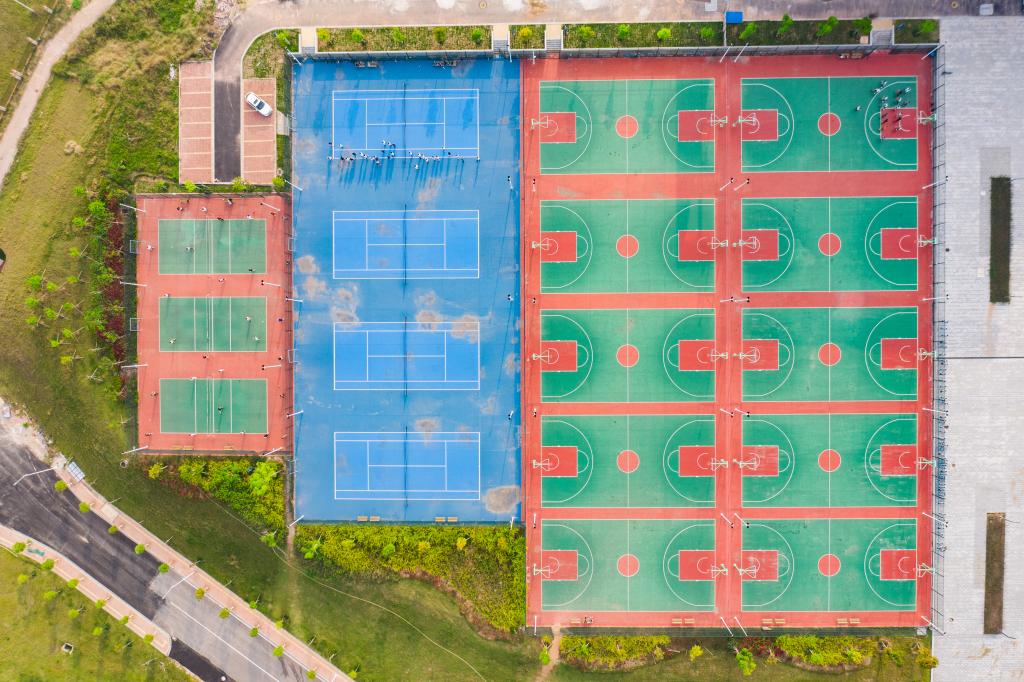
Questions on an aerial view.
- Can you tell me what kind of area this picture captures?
sports ground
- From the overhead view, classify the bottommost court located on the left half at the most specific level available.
tennis court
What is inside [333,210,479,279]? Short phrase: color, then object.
blue tennis court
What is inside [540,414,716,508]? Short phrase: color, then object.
green basketball court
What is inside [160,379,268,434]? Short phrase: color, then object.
green sports court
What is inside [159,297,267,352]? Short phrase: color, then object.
green sports court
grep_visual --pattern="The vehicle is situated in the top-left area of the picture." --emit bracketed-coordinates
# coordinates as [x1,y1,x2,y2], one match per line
[245,91,273,117]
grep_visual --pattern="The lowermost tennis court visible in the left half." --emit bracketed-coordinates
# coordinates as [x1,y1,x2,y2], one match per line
[334,432,480,500]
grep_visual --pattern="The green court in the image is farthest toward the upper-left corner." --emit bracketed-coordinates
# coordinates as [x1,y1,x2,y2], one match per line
[159,219,267,275]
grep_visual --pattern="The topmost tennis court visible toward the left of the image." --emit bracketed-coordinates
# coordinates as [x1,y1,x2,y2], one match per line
[333,89,479,159]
